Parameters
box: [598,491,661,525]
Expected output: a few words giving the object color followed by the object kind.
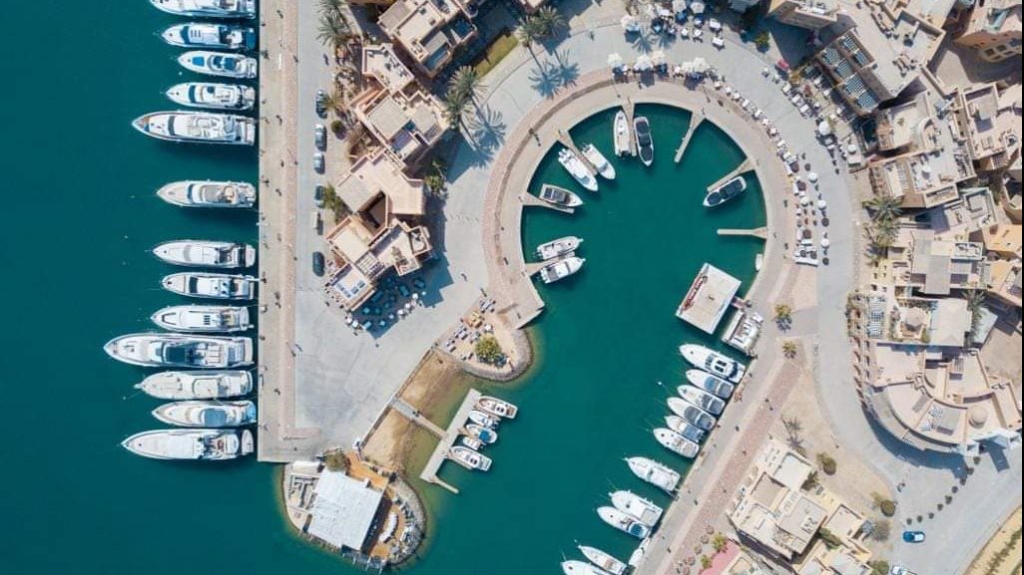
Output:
white boat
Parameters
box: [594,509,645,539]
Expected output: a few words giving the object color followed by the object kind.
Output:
white boat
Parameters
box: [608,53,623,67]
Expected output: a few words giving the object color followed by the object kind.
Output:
white umbrella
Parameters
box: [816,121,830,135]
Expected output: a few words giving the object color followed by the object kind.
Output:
white umbrella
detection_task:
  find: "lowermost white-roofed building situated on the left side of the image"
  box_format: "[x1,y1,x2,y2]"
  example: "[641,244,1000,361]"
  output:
[287,451,401,572]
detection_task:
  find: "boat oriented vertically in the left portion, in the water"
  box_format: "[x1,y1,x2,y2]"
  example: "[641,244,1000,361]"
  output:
[242,430,255,456]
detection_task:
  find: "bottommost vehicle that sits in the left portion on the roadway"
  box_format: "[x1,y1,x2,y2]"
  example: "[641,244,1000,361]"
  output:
[311,251,324,276]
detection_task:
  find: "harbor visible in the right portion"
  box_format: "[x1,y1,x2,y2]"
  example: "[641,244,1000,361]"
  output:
[518,99,771,575]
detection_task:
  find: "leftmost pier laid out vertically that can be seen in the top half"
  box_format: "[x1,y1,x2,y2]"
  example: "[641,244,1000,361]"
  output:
[622,103,637,157]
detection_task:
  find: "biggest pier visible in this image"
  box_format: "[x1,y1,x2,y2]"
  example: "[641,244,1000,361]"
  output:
[420,389,481,483]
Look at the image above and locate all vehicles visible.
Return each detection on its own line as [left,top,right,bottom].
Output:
[314,92,326,117]
[311,213,320,227]
[902,530,925,544]
[313,183,325,207]
[312,151,324,174]
[313,123,325,148]
[311,251,324,276]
